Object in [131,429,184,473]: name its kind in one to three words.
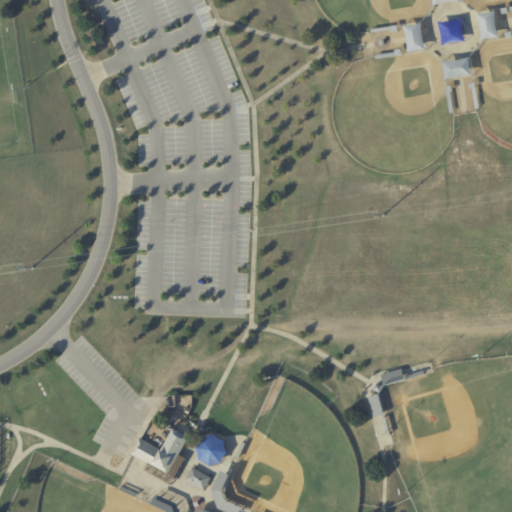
building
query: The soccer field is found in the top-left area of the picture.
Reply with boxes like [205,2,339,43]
[0,0,33,158]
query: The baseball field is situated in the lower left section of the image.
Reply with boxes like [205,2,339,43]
[38,462,164,512]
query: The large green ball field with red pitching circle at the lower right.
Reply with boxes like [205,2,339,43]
[388,356,512,512]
